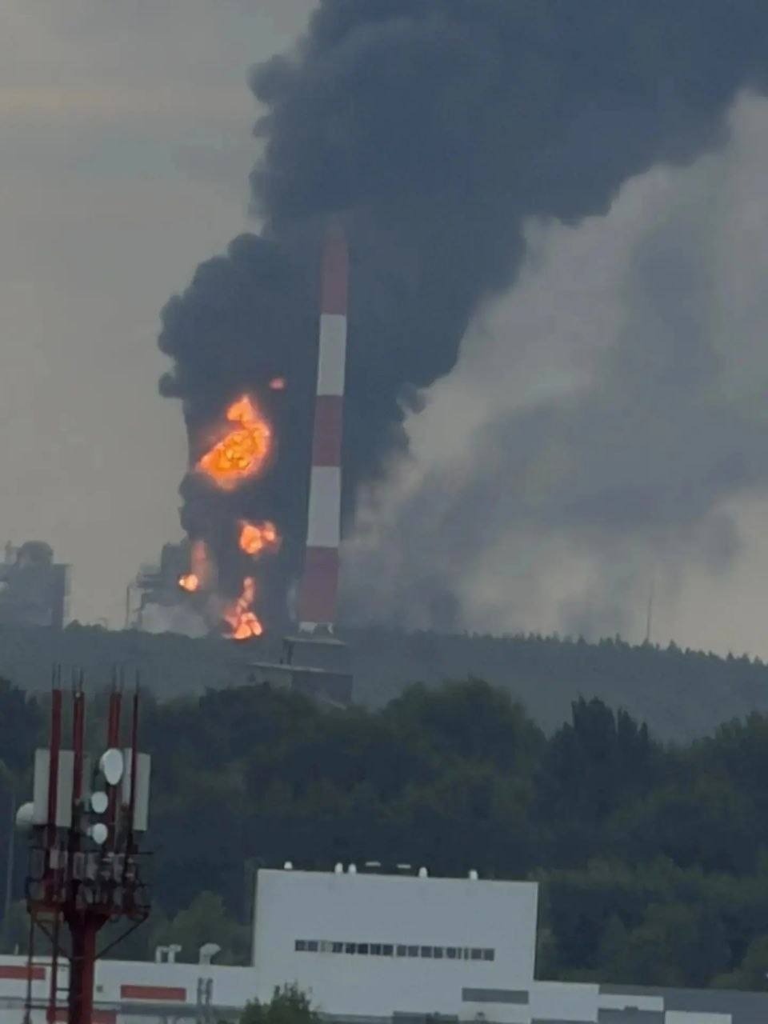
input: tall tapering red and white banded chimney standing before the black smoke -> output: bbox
[294,209,349,672]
